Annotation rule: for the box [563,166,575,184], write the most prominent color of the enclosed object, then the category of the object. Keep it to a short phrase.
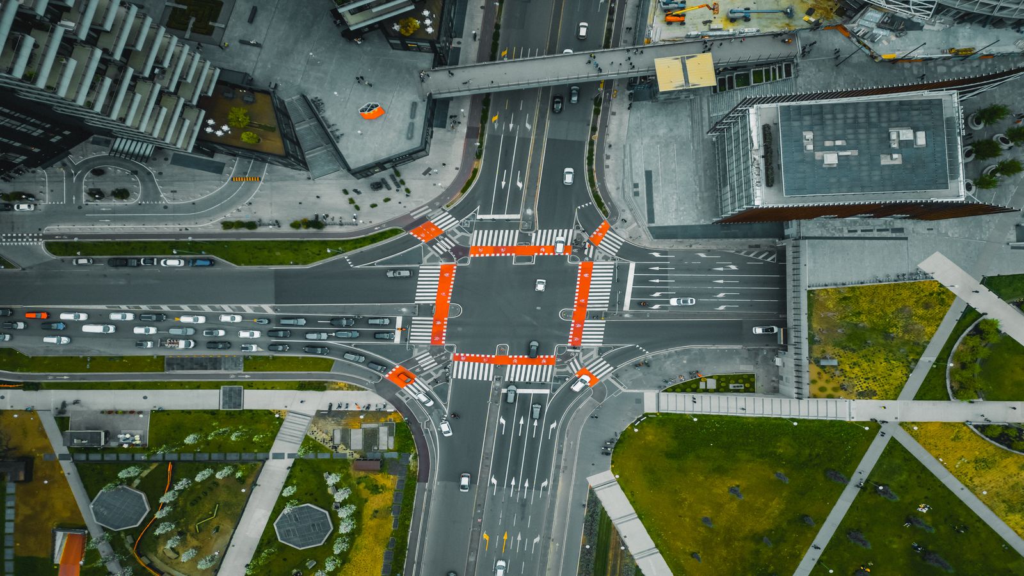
white vehicle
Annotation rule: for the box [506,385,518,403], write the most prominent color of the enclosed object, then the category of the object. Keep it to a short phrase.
gray vehicle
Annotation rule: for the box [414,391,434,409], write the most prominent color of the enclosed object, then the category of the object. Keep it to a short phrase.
white car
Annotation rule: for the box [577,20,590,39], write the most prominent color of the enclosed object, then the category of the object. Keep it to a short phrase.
white vehicle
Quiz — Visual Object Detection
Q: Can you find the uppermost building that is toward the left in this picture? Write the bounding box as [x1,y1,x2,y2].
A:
[333,0,449,63]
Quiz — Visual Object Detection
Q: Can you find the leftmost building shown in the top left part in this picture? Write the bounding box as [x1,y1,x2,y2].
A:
[0,0,221,160]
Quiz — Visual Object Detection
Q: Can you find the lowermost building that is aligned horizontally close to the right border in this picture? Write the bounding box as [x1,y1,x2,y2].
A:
[698,63,1024,225]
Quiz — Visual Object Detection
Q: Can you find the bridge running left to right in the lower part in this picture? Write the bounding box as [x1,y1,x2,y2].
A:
[644,392,849,421]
